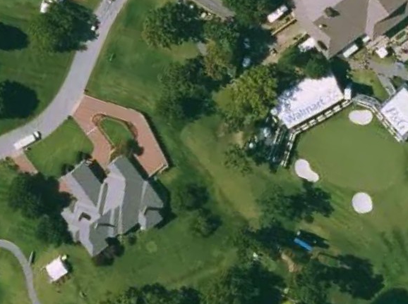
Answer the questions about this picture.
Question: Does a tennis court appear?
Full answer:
No, there's no tennis court here.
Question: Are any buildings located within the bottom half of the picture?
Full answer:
Yes, a building is visible within the bottom half of the picture.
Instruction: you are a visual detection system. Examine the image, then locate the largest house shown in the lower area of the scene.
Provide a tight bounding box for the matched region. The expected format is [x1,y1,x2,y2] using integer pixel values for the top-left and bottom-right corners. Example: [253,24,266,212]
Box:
[60,158,165,256]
